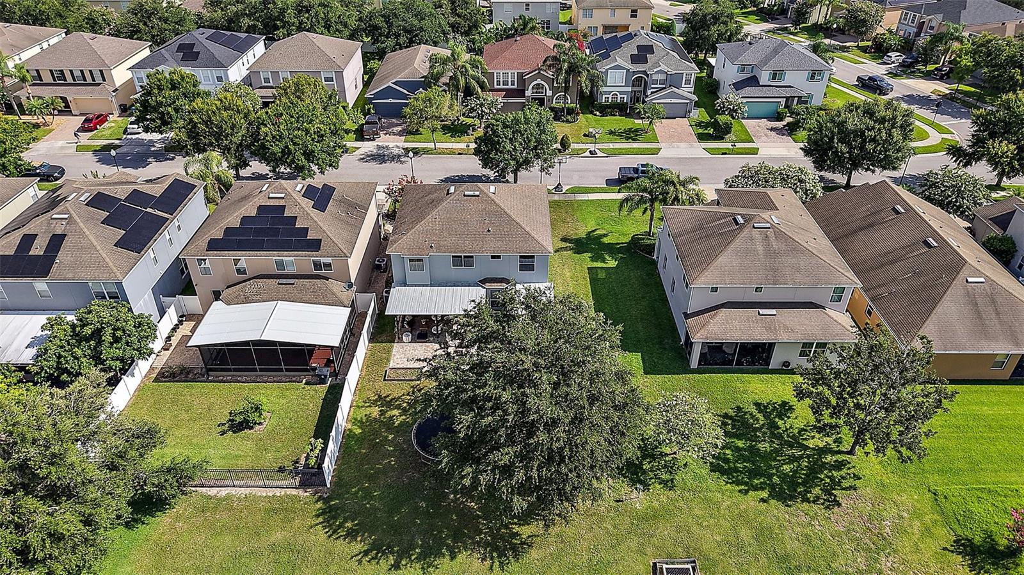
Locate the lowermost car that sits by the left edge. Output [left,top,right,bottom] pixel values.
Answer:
[13,163,63,182]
